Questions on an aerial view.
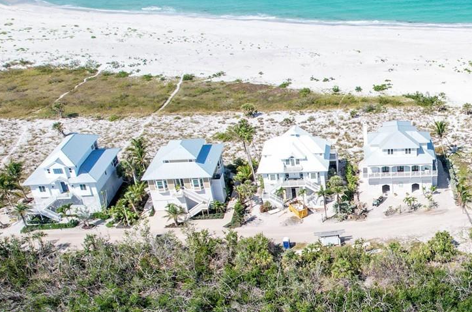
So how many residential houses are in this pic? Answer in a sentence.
There are 4 residential houses in the image.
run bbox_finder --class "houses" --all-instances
[141,136,235,222]
[362,122,441,194]
[22,126,123,228]
[255,126,345,218]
